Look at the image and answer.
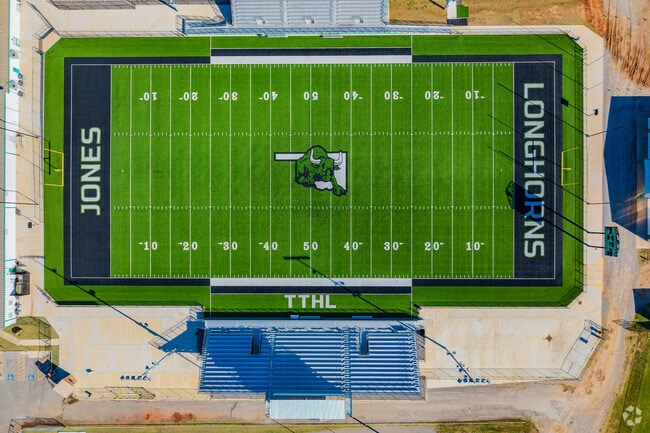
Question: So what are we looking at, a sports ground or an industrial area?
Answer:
sports ground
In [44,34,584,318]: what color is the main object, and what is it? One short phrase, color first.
green sports field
